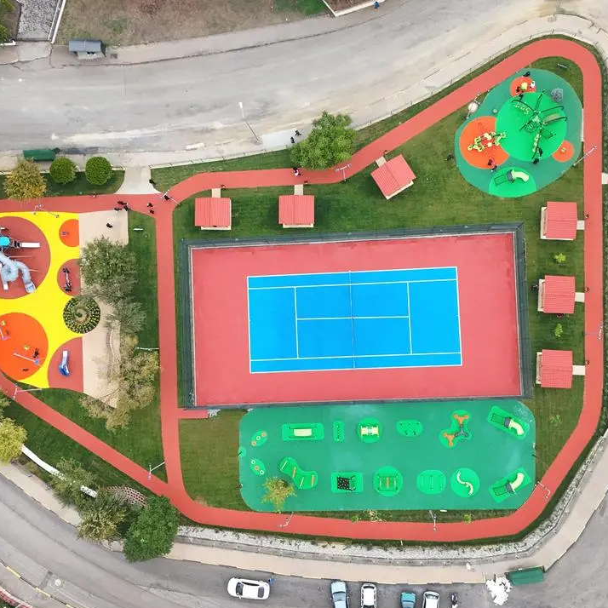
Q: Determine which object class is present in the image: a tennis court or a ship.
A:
tennis court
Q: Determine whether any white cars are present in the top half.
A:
No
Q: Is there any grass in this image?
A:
Yes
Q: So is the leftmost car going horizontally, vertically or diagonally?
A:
horizontally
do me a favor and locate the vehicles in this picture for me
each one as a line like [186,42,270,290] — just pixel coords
[423,590,440,608]
[332,579,351,608]
[361,582,377,608]
[228,577,272,599]
[399,589,418,608]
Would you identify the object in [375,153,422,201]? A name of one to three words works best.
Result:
gazebo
